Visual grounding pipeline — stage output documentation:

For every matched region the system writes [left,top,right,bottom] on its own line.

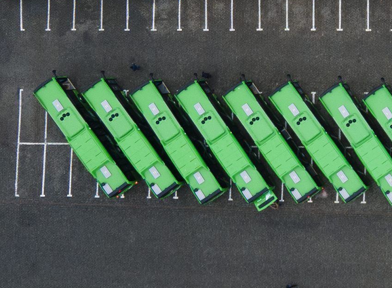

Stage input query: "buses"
[172,71,282,213]
[32,68,146,200]
[266,71,376,204]
[359,75,392,140]
[220,71,330,206]
[316,73,392,204]
[80,69,189,200]
[128,71,236,206]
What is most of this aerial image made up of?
paved ground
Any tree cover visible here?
No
